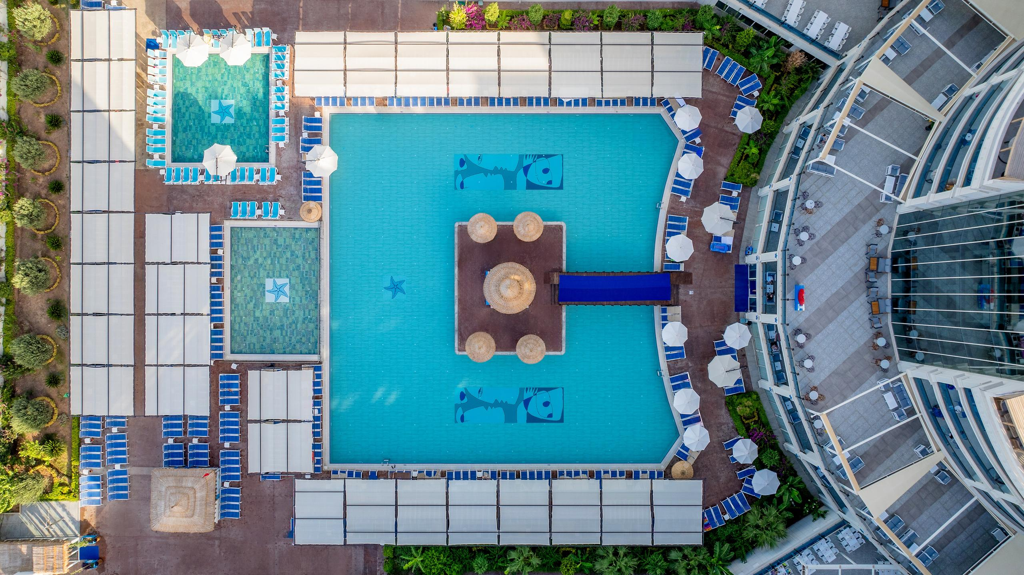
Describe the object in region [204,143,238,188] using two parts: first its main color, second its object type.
white umbrella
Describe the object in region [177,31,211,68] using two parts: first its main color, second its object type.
white umbrella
